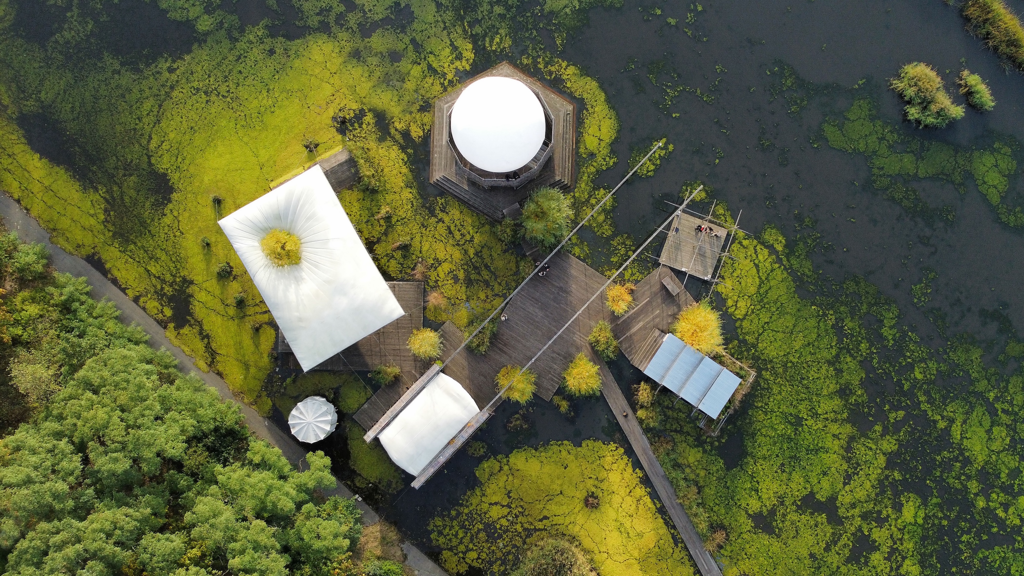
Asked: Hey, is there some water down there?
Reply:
Yes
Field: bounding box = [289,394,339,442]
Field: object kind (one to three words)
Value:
tent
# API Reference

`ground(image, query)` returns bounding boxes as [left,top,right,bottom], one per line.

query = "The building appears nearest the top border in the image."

[429,60,577,222]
